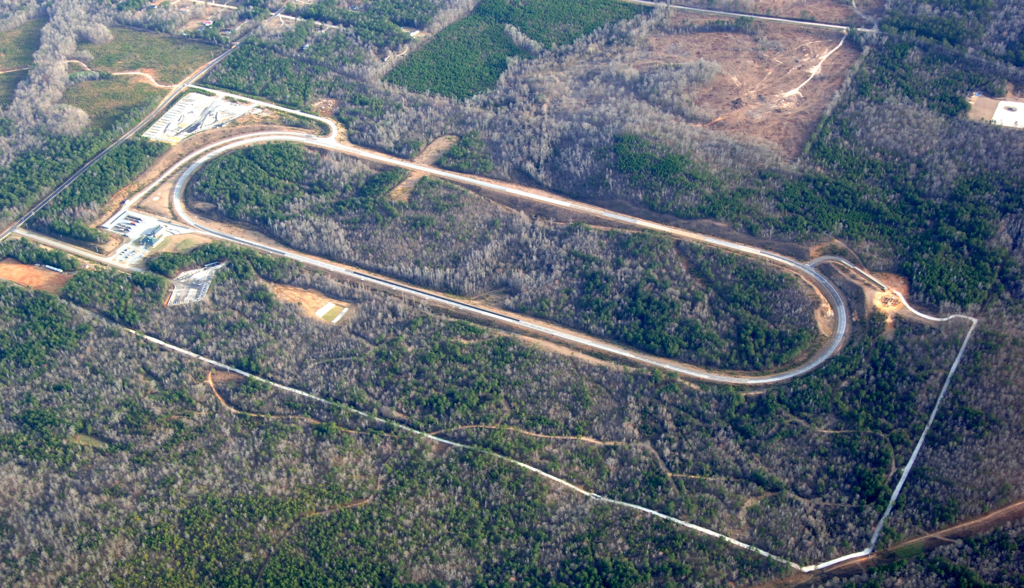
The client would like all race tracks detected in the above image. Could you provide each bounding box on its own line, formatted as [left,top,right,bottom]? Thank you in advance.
[171,136,847,384]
